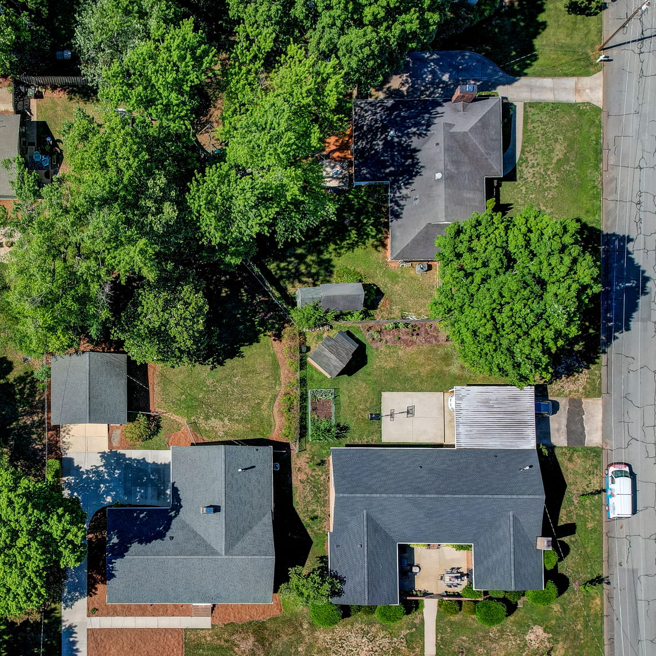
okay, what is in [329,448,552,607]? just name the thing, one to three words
house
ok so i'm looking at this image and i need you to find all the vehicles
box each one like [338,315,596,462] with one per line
[536,401,552,419]
[447,397,453,412]
[607,463,635,518]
